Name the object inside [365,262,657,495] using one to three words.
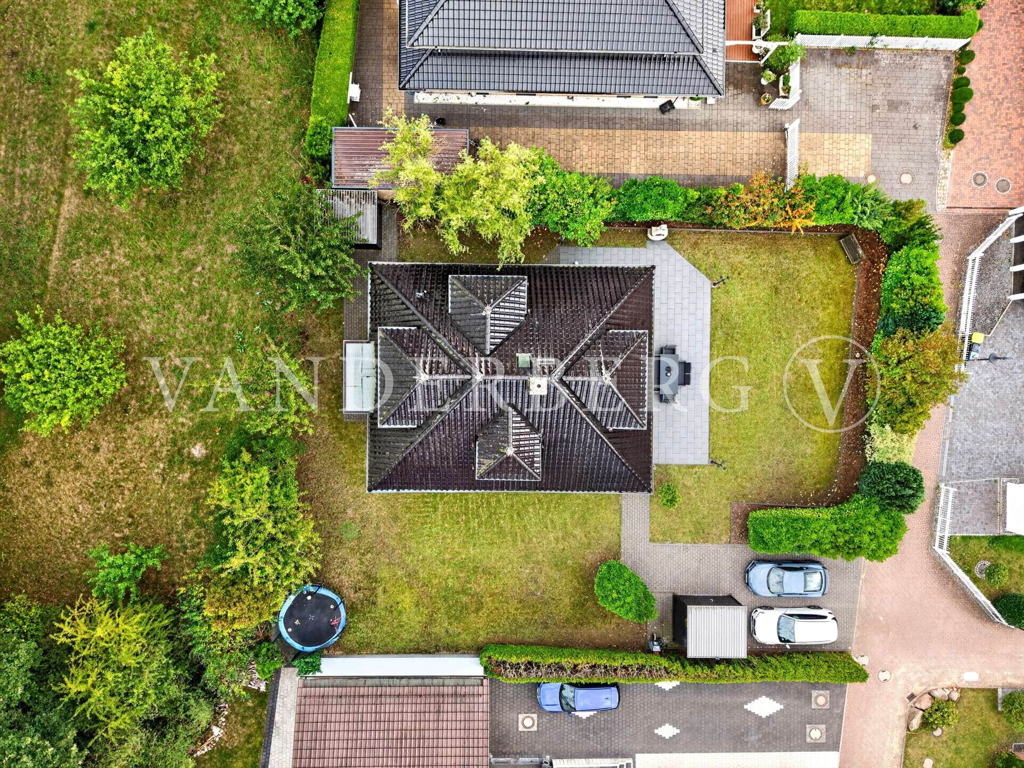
house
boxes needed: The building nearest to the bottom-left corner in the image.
[291,669,490,768]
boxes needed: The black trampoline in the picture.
[272,580,348,660]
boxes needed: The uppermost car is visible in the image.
[745,561,831,602]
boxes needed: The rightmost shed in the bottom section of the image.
[673,595,747,661]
